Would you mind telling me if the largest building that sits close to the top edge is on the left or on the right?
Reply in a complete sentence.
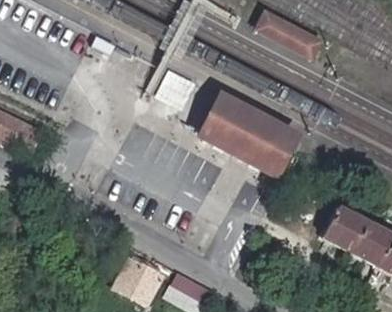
The largest building that sits close to the top edge appears in the right half of the scene.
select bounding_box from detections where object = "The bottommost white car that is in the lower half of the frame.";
[167,205,182,230]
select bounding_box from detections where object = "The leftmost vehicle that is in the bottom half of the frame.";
[108,180,122,202]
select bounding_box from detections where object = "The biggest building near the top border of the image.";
[254,10,324,64]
